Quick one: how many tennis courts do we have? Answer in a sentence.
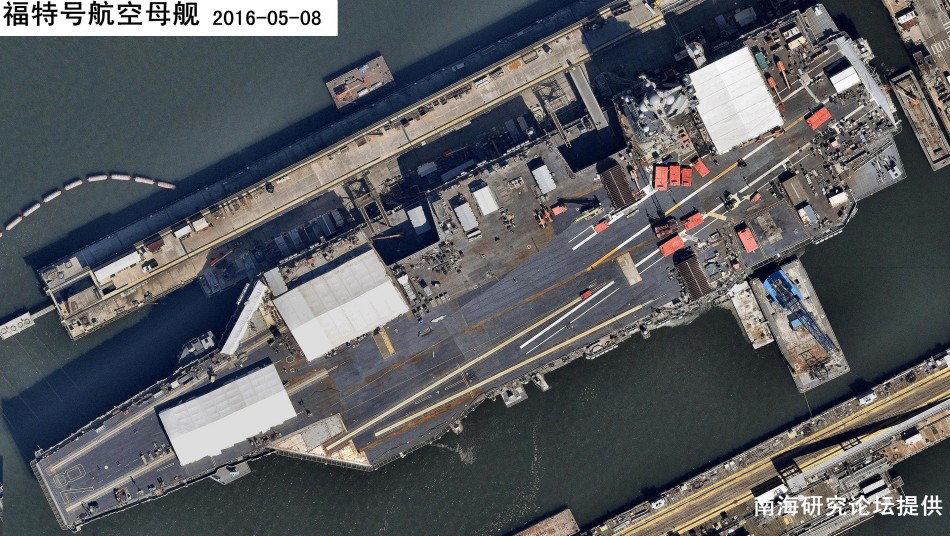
Not a single tennis court can be seen.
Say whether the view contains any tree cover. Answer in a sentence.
No, the scene doesn't show any tree cover.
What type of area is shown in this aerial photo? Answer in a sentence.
This image shows a port.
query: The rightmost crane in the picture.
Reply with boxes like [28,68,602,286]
[764,270,843,361]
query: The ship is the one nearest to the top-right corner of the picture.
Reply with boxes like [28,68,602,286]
[890,70,950,172]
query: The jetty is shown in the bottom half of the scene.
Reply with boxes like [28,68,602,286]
[576,344,950,536]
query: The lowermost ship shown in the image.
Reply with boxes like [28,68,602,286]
[516,508,581,536]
